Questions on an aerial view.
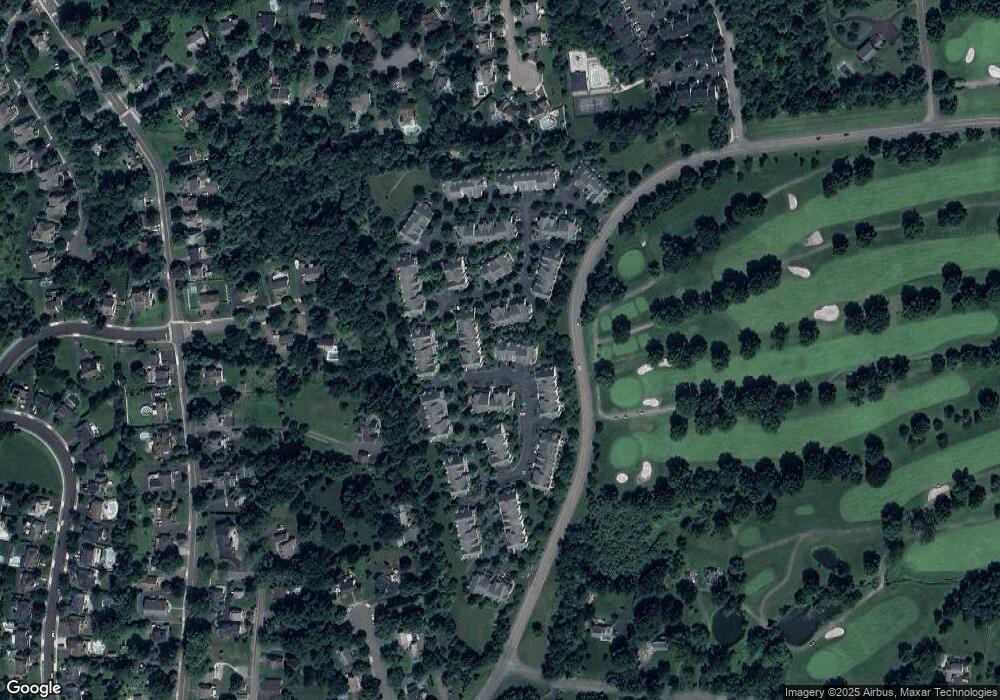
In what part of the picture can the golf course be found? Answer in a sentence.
The golf course appears toward the right of the photo.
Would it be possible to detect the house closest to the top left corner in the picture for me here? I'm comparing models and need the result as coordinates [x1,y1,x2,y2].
[30,28,51,51]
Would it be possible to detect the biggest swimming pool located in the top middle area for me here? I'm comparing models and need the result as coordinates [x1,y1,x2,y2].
[588,58,609,89]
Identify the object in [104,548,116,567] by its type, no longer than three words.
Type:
swimming pool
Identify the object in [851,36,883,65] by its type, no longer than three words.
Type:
barn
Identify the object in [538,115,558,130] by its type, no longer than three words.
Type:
swimming pool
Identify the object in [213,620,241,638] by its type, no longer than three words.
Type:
house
